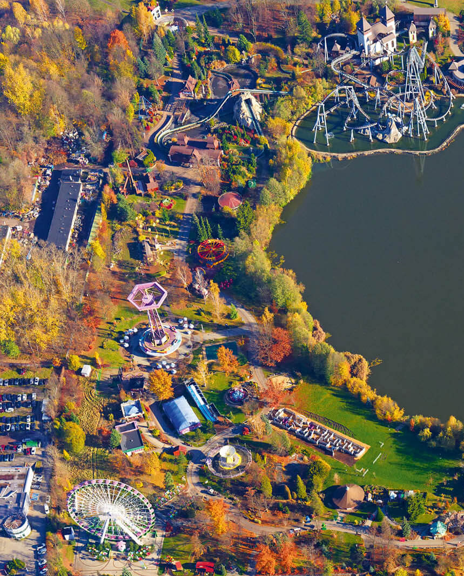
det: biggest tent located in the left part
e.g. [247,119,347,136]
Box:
[166,395,200,439]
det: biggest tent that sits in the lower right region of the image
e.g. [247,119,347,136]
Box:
[331,485,365,514]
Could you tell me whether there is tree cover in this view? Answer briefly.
Yes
